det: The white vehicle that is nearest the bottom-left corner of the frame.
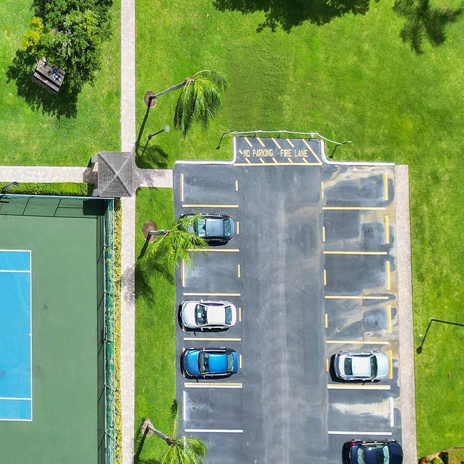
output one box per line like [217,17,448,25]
[182,299,242,336]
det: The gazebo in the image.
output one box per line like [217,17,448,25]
[90,151,135,197]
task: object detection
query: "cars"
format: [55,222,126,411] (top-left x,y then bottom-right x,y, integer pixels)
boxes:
[186,212,241,246]
[346,441,407,464]
[184,347,244,384]
[182,299,242,336]
[335,350,394,387]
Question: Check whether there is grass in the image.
Yes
